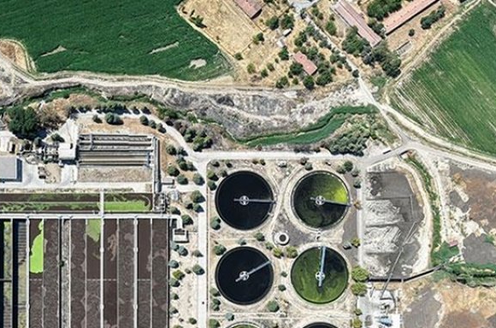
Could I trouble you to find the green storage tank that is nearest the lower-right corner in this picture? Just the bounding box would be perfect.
[291,245,350,303]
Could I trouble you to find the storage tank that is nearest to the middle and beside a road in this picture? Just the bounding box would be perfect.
[215,171,278,230]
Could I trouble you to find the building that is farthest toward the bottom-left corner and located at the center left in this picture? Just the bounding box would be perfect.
[0,156,17,179]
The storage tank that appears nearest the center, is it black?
Yes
